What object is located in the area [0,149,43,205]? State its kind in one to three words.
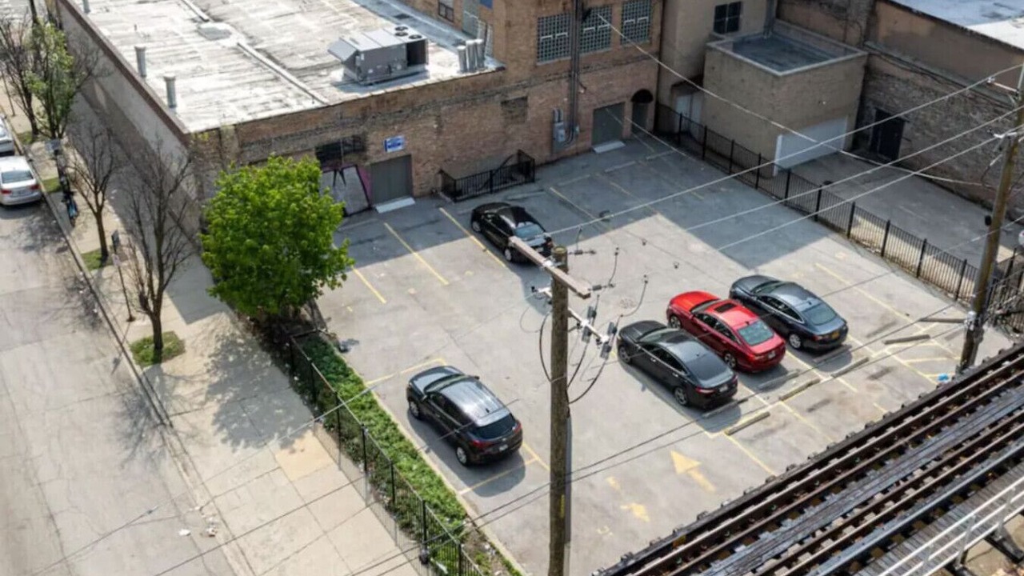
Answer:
car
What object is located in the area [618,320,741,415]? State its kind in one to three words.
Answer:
car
